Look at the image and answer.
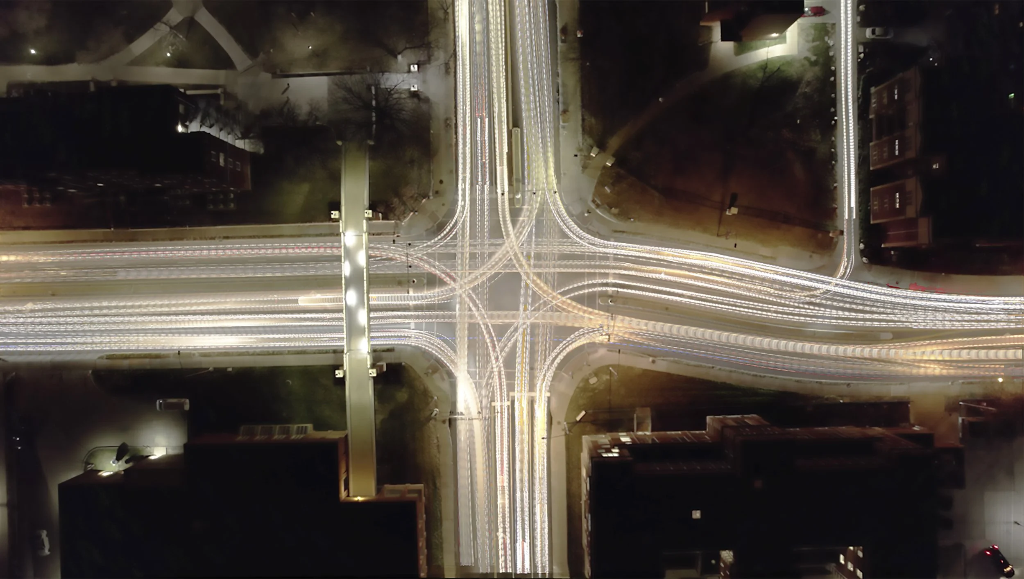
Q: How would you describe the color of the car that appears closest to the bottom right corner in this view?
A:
black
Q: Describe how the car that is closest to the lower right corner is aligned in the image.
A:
at an angle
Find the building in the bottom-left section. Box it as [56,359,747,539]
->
[58,430,426,579]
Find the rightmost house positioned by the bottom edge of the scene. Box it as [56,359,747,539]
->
[583,415,989,579]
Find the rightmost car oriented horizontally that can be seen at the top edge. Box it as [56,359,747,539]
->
[865,26,892,38]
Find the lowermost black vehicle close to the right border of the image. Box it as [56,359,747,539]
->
[989,547,1011,571]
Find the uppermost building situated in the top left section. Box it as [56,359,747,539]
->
[0,86,196,127]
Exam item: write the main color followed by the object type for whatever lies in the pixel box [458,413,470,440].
white vehicle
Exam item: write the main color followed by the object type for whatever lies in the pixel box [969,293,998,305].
white vehicle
